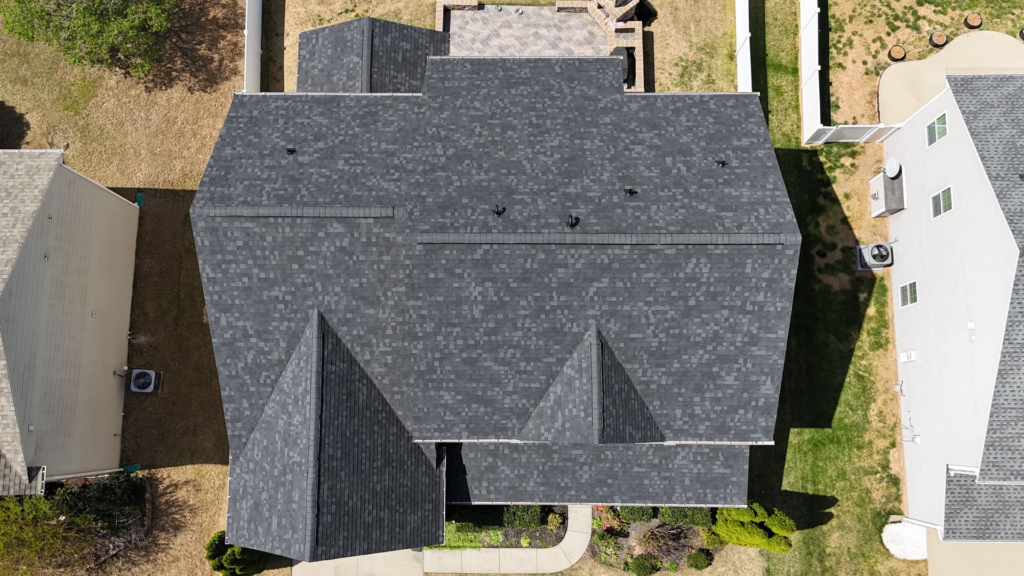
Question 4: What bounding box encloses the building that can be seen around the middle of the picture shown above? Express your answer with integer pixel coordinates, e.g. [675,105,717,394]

[191,17,801,561]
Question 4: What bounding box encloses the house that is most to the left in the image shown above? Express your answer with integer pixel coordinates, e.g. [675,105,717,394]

[0,149,144,494]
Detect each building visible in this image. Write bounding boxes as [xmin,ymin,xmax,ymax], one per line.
[191,17,801,561]
[870,73,1024,543]
[0,149,144,494]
